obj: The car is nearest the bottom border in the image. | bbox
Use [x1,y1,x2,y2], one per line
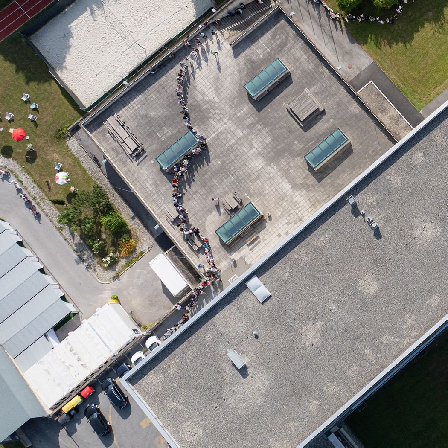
[86,404,112,436]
